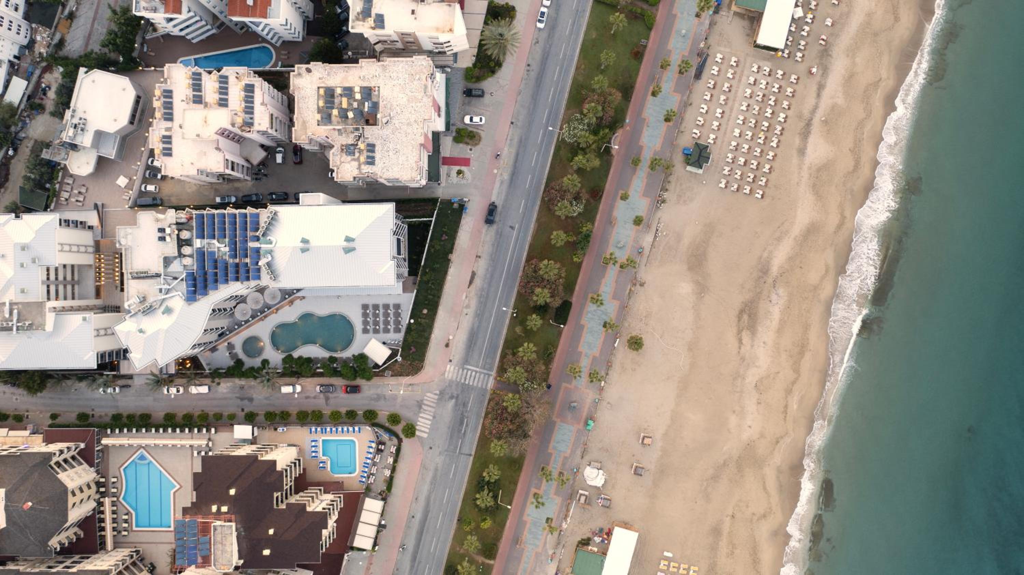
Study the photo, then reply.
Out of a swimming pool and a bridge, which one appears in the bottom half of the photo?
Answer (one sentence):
What appears in the bottom half of the photo is a swimming pool.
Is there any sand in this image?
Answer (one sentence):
Yes, some sand is visible.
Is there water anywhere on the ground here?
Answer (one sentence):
Yes, water shows up in the scene.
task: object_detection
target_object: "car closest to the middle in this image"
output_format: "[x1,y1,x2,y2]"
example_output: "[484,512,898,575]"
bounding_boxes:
[485,203,497,224]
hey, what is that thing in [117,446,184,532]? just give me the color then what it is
blue swimming pool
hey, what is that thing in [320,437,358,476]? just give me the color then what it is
blue swimming pool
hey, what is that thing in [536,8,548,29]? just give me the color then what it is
white vehicle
